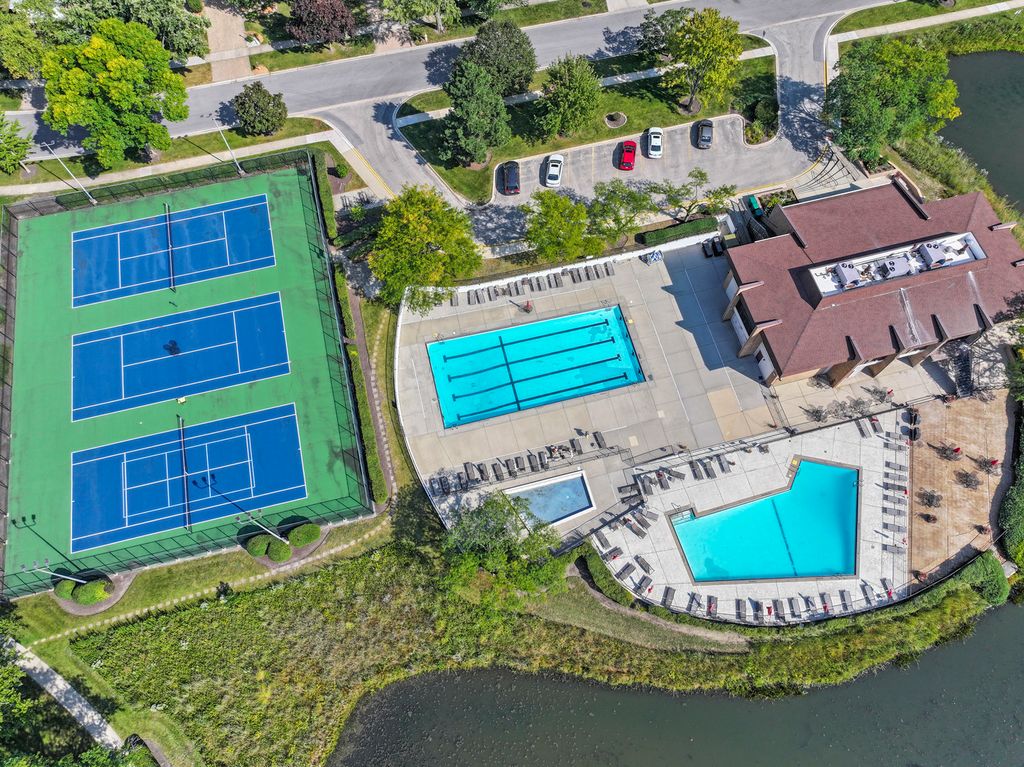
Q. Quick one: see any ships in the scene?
No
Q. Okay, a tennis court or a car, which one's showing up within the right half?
car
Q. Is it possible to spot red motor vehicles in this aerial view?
Yes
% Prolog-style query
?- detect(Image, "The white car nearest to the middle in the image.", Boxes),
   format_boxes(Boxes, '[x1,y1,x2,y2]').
[546,155,564,187]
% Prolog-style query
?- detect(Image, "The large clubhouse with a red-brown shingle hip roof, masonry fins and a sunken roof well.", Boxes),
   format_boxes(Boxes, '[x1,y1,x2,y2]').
[722,176,1024,387]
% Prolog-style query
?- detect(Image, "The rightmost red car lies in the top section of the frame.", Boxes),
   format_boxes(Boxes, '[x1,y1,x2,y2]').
[619,140,638,171]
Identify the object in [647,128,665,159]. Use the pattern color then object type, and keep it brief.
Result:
white car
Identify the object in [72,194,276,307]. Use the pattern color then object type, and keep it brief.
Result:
blue tennis court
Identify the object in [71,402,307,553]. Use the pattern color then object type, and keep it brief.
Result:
blue tennis court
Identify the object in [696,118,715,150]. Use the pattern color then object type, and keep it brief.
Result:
gray car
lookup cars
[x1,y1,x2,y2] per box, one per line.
[546,155,564,187]
[696,118,715,150]
[503,162,521,194]
[647,128,665,159]
[619,140,638,171]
